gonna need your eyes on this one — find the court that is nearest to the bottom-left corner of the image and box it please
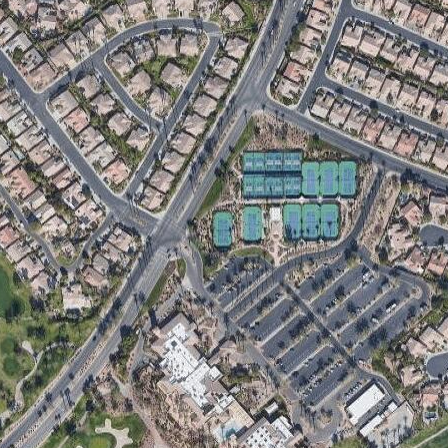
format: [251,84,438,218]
[215,212,232,248]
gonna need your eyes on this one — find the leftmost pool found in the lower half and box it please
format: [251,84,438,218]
[224,422,240,440]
